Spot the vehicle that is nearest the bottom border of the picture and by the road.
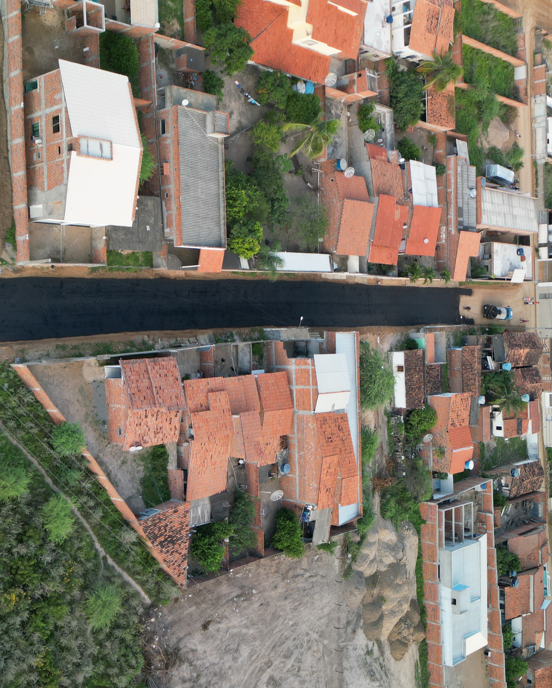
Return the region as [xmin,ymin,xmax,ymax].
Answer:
[475,304,515,323]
